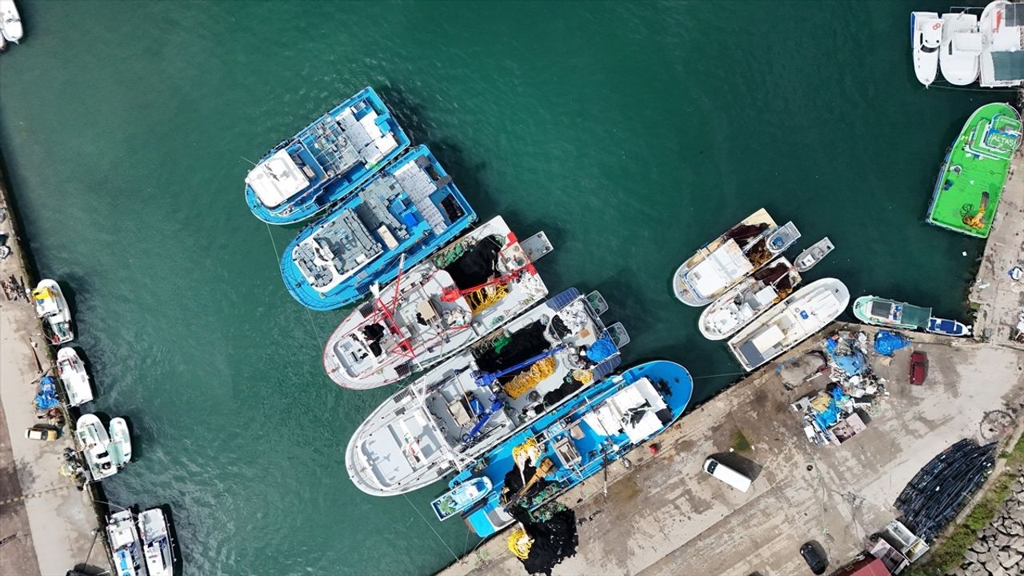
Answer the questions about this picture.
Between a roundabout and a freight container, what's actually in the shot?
freight container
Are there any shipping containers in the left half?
No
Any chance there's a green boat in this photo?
Yes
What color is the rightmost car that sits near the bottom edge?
black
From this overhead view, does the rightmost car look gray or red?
red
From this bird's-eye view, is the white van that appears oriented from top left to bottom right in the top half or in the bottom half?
bottom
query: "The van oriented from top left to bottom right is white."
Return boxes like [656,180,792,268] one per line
[699,452,754,494]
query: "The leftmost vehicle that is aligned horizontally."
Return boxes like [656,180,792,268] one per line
[26,425,62,442]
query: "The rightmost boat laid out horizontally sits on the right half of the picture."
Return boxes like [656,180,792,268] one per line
[924,317,969,335]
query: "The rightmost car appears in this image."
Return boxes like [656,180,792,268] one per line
[906,350,927,385]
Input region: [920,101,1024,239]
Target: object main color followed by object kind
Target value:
green boat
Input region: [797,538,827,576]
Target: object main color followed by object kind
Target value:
black car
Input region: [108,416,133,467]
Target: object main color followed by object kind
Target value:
white boat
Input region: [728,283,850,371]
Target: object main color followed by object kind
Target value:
white boat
